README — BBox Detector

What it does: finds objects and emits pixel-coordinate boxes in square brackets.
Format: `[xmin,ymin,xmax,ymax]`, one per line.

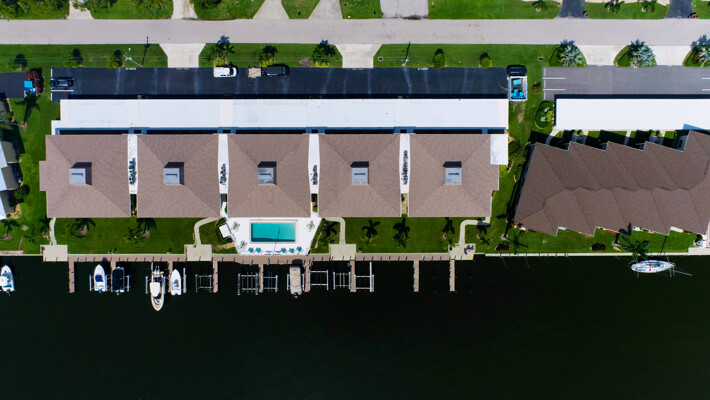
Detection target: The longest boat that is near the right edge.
[629,260,692,274]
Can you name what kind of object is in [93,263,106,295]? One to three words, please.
boat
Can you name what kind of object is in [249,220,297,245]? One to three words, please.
swimming pool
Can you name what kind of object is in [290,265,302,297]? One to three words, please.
boat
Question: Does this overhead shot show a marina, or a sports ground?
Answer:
marina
